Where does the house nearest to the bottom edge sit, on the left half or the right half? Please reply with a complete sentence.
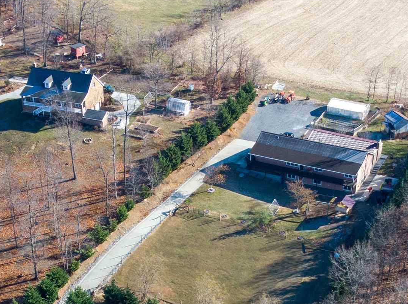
The house nearest to the bottom edge is on the right side of the image.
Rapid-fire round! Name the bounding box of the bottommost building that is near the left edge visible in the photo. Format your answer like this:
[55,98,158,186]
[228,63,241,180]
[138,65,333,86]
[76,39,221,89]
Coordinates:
[18,62,103,117]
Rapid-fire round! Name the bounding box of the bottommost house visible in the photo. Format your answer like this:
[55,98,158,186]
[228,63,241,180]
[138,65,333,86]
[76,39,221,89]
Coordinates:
[248,125,384,193]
